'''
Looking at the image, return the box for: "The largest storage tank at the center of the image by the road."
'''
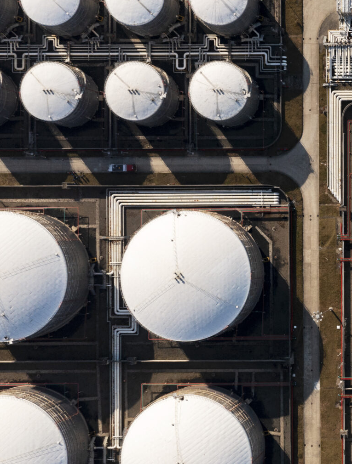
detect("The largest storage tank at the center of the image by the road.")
[118,207,265,343]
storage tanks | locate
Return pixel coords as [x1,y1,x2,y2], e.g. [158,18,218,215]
[104,0,181,37]
[188,0,260,37]
[18,60,100,129]
[0,208,91,346]
[102,60,181,129]
[18,0,101,37]
[188,60,261,129]
[120,387,266,464]
[0,386,91,464]
[118,207,265,343]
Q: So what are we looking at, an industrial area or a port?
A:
industrial area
